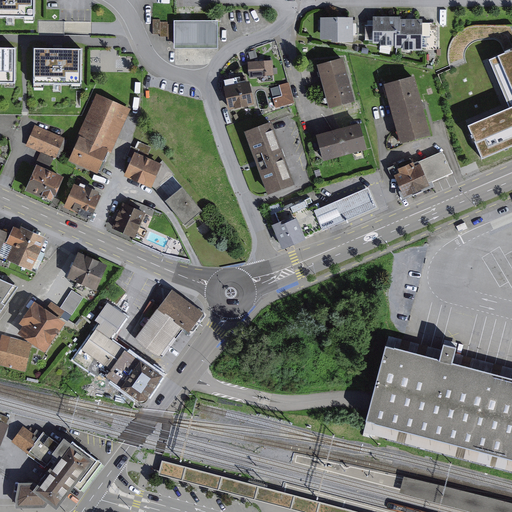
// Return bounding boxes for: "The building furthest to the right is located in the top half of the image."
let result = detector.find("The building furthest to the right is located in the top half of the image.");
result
[467,48,512,158]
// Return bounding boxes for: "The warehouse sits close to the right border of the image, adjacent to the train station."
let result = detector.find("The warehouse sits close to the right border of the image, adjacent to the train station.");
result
[363,344,512,474]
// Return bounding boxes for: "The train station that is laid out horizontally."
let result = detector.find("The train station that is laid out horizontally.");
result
[283,453,403,512]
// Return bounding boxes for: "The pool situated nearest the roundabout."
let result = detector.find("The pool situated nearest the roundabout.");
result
[146,231,168,248]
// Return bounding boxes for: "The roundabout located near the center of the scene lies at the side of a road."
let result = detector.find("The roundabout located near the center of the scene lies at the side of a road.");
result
[205,267,256,318]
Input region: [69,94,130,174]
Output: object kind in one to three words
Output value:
barn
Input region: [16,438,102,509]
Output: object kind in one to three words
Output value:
building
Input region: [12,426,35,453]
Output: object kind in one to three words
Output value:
house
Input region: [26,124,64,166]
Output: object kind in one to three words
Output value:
house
